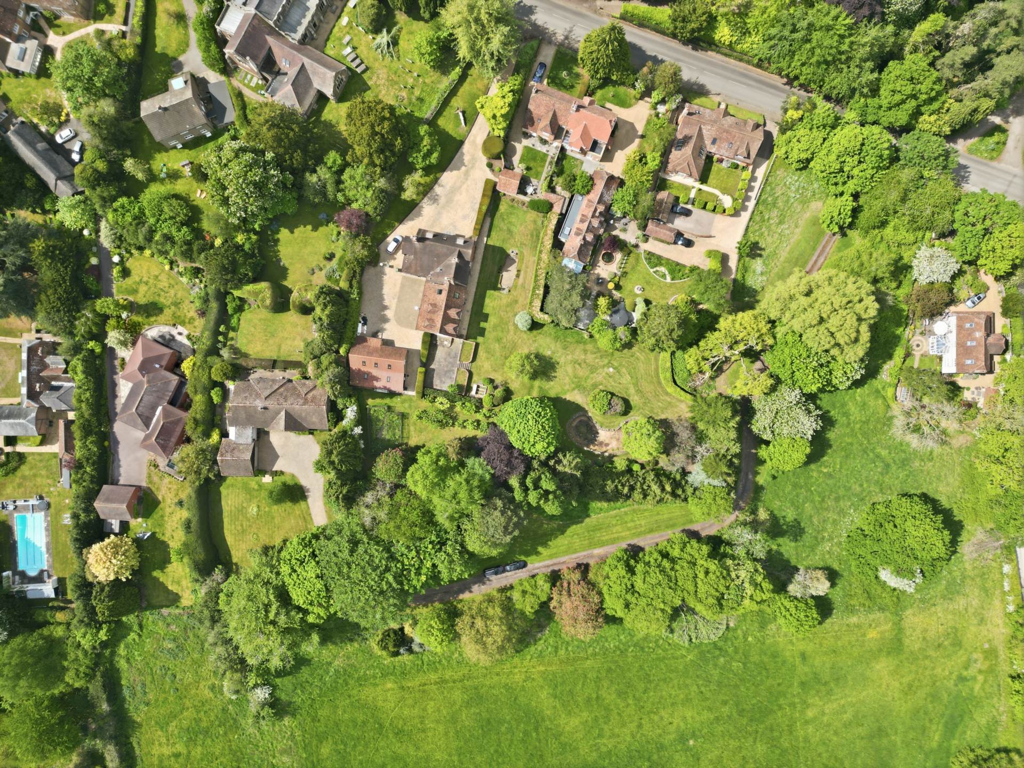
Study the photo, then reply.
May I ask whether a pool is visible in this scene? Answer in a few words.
Yes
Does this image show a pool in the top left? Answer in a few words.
No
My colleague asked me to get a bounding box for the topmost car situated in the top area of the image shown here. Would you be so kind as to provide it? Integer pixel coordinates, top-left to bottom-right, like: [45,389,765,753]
[532,61,547,85]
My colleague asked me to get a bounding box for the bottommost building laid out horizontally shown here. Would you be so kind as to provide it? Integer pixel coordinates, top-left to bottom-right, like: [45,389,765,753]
[12,575,66,599]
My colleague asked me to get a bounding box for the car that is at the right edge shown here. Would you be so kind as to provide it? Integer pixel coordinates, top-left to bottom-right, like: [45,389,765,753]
[964,290,988,309]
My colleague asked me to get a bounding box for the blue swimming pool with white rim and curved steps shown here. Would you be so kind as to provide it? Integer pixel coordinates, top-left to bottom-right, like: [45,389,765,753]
[13,512,47,577]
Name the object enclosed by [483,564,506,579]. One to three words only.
car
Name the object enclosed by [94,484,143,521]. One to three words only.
building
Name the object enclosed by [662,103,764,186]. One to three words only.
house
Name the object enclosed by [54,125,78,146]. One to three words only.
car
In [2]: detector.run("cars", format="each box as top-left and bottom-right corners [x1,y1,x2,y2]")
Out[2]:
[54,125,78,146]
[532,61,547,85]
[71,139,86,163]
[673,234,697,249]
[384,233,405,257]
[669,204,693,219]
[504,559,527,573]
[964,290,988,309]
[483,564,506,579]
